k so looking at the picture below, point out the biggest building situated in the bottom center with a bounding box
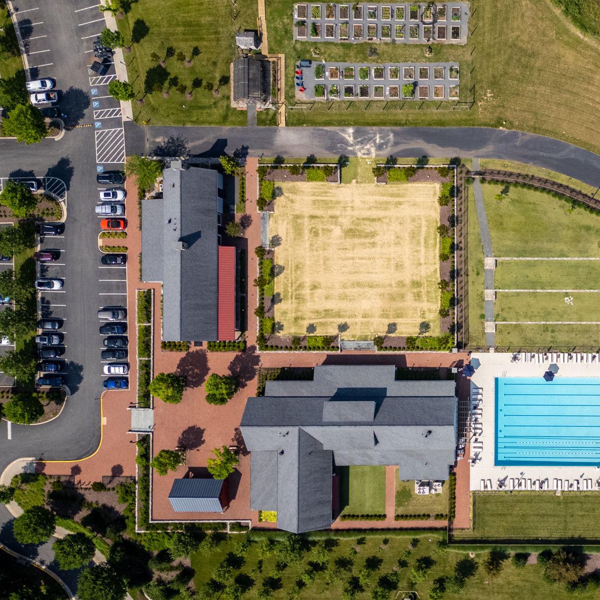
[240,366,456,533]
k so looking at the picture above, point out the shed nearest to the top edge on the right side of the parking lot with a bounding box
[237,32,258,49]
